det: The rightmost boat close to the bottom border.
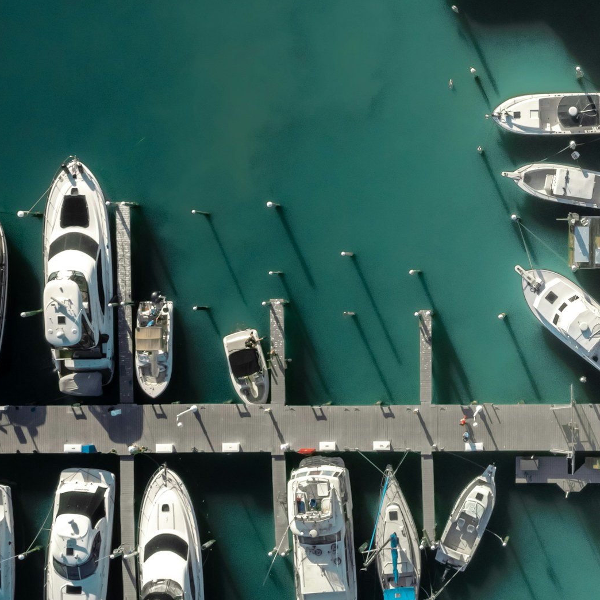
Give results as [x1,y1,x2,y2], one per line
[435,462,494,577]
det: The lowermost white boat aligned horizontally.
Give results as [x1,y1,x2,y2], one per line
[502,164,600,213]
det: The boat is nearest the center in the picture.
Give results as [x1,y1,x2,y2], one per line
[220,328,270,405]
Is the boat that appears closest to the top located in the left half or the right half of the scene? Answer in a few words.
right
